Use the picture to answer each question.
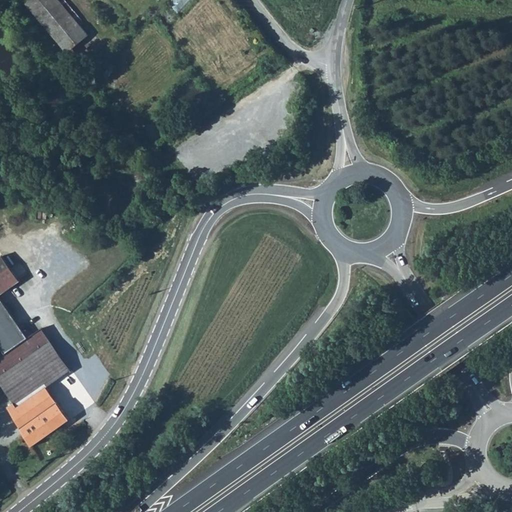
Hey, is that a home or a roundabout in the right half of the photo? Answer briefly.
roundabout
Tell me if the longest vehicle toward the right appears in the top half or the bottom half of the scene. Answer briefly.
bottom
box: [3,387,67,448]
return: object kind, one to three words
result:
house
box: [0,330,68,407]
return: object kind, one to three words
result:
barn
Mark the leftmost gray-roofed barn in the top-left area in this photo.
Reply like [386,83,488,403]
[24,0,86,50]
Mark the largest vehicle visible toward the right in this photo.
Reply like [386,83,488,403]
[322,427,347,446]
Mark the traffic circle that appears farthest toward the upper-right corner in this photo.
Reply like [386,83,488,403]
[279,148,442,281]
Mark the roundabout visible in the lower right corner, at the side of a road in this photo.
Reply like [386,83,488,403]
[466,400,512,495]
